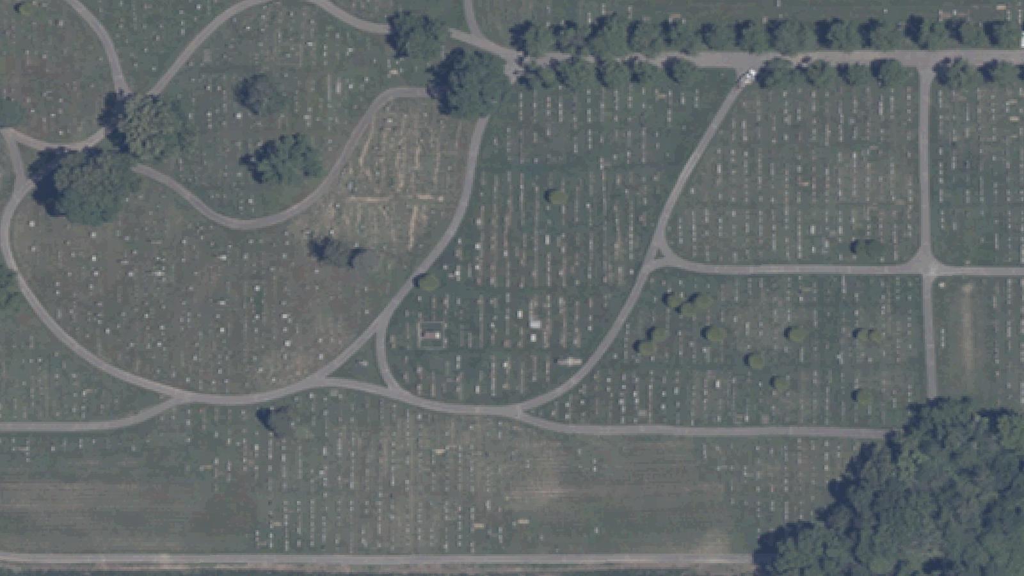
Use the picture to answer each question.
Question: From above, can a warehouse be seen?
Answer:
No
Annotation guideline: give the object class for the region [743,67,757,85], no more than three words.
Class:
vehicle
